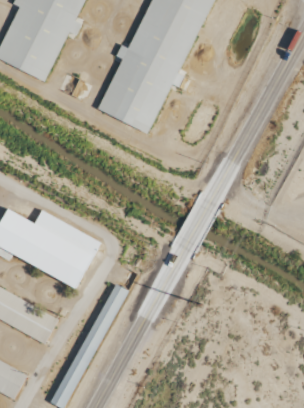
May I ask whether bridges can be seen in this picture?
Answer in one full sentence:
Yes, this view includes a bridge.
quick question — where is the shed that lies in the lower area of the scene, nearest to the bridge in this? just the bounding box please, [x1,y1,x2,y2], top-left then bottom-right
[52,286,128,408]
